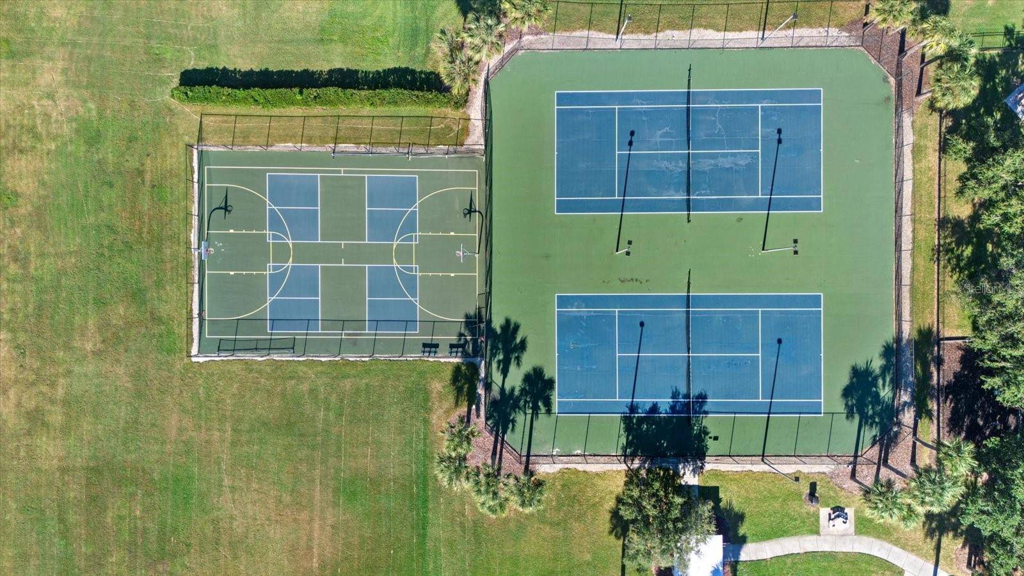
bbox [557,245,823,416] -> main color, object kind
blue tennis court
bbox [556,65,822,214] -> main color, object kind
blue tennis court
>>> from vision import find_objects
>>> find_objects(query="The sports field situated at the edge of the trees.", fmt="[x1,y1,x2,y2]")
[0,0,429,576]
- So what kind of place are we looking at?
sports ground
